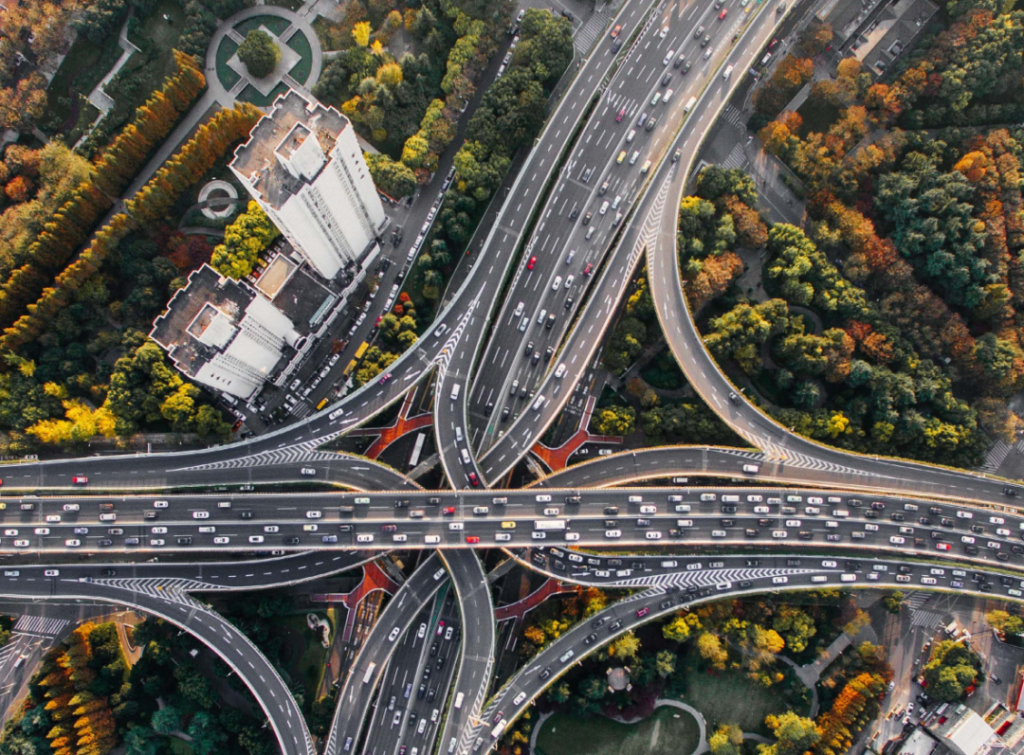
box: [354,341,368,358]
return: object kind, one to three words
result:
vehicle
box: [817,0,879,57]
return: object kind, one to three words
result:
building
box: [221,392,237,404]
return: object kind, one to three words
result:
vehicle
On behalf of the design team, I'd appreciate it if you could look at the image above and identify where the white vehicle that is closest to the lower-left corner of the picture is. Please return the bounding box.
[13,653,28,669]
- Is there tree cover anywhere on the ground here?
Yes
